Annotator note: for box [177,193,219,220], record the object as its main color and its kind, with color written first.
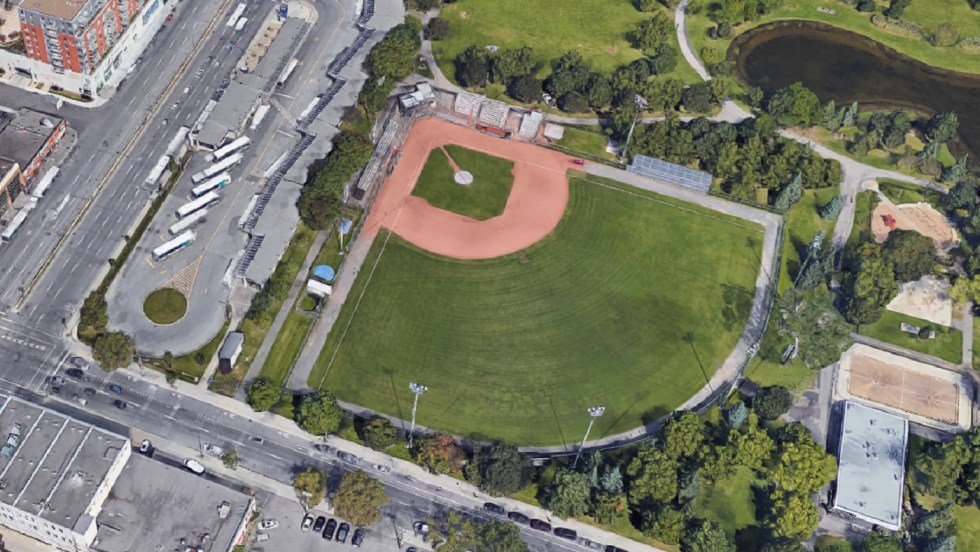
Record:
white bus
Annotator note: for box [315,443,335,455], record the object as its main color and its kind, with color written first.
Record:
gray vehicle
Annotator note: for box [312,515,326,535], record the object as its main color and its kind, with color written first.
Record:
black car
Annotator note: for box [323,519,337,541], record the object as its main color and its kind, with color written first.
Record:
black car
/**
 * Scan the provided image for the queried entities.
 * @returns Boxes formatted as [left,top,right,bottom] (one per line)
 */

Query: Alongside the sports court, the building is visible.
[827,401,907,540]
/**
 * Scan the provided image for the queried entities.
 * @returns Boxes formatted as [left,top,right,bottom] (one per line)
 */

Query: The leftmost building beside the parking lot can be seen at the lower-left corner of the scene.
[0,396,132,548]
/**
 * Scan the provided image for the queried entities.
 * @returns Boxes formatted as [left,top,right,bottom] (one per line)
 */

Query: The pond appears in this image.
[726,20,980,183]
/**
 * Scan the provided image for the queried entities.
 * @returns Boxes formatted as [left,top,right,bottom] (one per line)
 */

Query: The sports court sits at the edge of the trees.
[836,344,972,430]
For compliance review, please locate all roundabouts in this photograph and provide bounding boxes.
[144,289,188,325]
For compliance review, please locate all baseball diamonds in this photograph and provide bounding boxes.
[285,118,783,453]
